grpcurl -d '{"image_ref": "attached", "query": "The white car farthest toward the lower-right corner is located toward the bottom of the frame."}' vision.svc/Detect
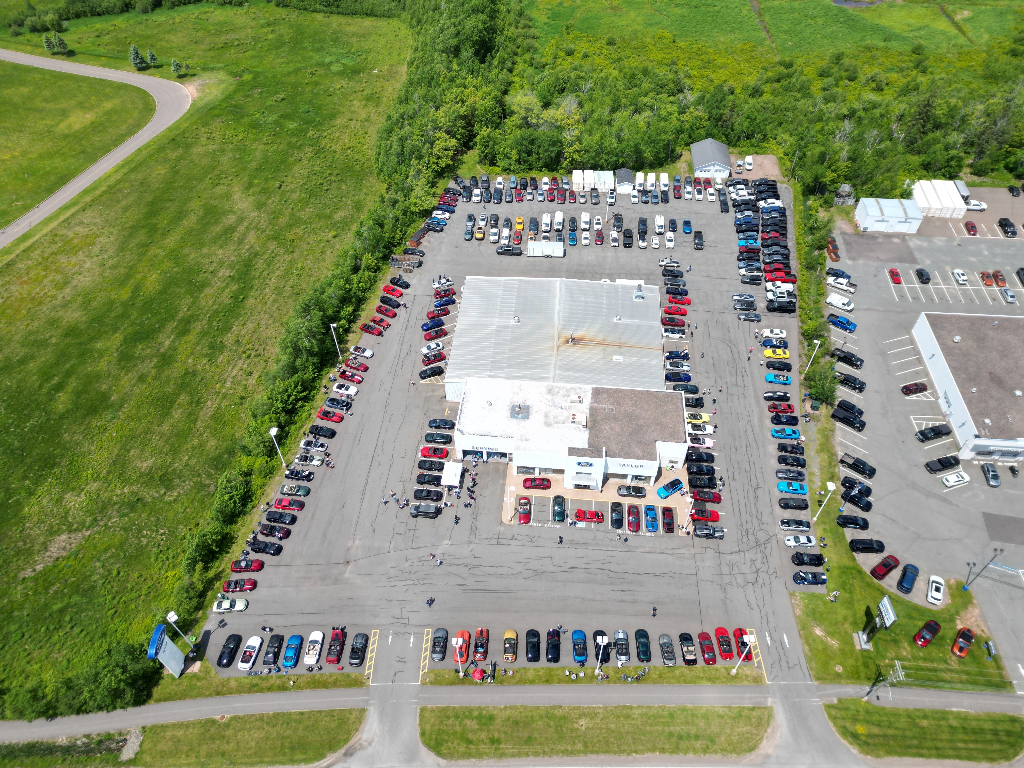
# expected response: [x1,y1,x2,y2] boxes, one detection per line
[926,575,945,604]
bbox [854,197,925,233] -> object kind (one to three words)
building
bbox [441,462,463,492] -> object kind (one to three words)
tent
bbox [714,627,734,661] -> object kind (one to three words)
car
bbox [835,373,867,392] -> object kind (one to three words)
vehicle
